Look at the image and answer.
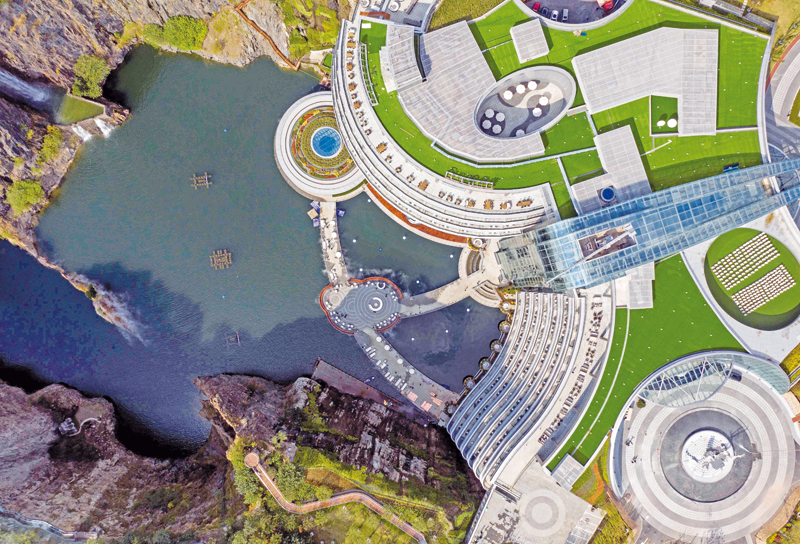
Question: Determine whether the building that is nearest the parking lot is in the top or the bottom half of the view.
top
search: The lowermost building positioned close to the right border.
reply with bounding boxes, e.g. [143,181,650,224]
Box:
[603,349,795,500]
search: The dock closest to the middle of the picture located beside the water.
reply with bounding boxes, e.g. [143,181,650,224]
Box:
[312,360,448,431]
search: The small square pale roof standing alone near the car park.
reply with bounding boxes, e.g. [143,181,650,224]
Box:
[508,18,549,67]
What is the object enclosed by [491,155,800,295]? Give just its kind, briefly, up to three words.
building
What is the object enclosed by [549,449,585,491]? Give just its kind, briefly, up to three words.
building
